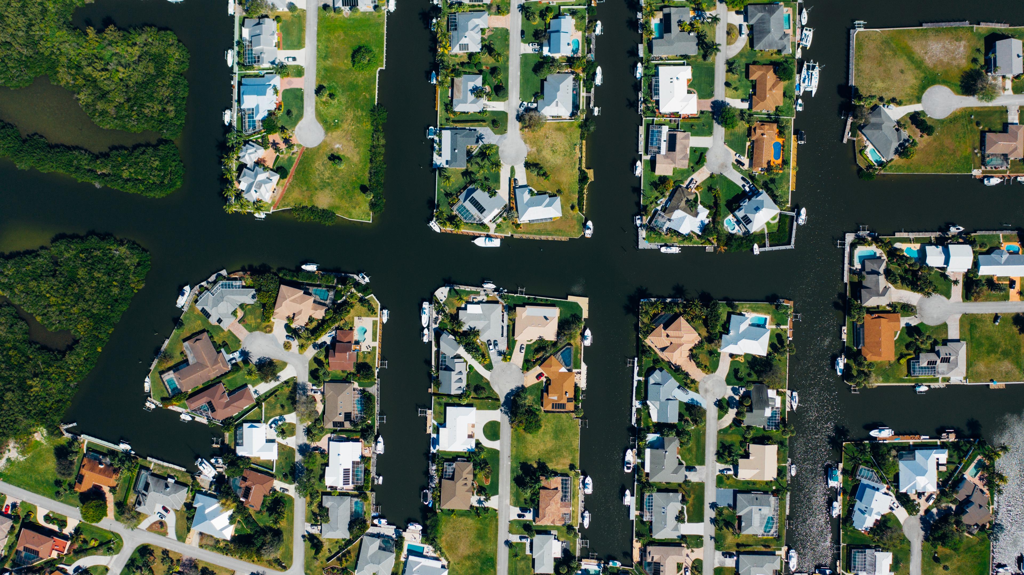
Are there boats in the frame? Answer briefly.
Yes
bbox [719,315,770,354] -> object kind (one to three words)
house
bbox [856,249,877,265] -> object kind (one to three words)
swimming pool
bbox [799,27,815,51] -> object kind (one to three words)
boat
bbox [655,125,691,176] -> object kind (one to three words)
house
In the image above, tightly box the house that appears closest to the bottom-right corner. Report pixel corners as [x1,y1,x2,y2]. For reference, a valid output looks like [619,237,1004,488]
[949,478,994,528]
